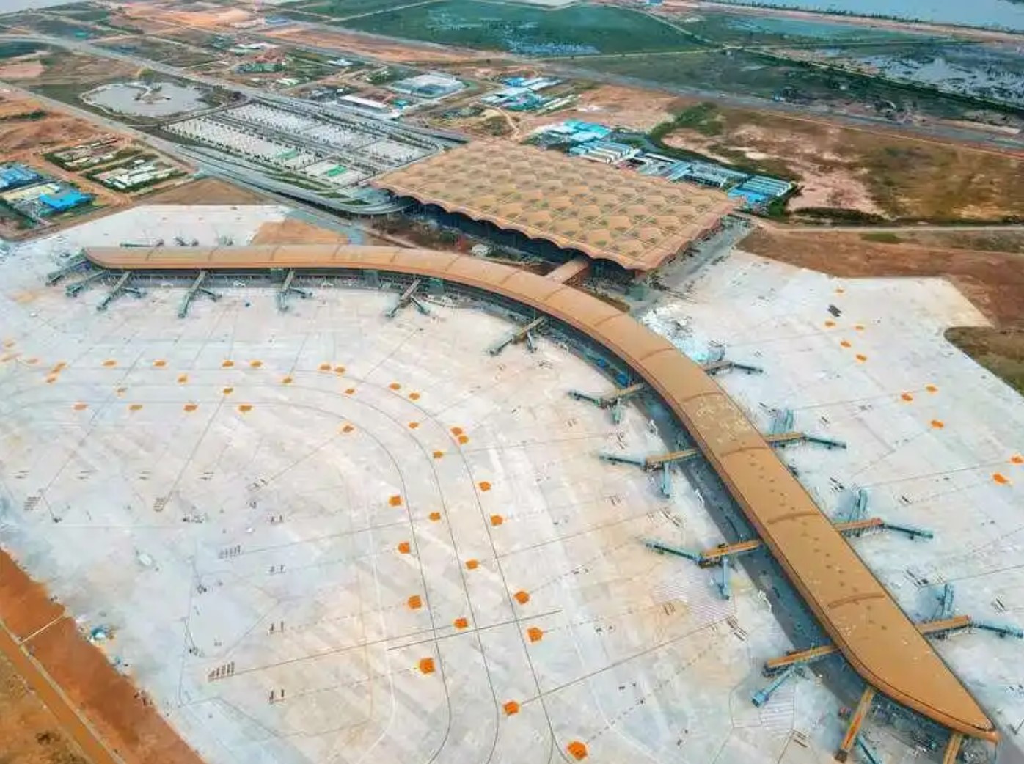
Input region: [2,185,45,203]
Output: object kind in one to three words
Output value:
shed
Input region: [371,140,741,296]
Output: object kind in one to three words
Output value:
building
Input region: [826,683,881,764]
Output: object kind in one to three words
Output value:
jet bridge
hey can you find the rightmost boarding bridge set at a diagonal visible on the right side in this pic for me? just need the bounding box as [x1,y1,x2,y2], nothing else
[929,728,966,764]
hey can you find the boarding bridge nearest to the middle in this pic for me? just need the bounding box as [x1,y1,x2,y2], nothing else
[492,315,549,357]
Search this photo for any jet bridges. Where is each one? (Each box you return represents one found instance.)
[66,269,113,297]
[826,683,881,764]
[569,382,646,425]
[387,278,431,319]
[917,584,1024,643]
[179,271,221,320]
[492,315,549,357]
[644,539,769,601]
[279,269,313,314]
[751,642,842,708]
[176,236,199,245]
[97,270,142,311]
[929,728,966,764]
[702,348,762,378]
[46,260,96,287]
[833,490,934,544]
[599,448,703,499]
[764,411,847,454]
